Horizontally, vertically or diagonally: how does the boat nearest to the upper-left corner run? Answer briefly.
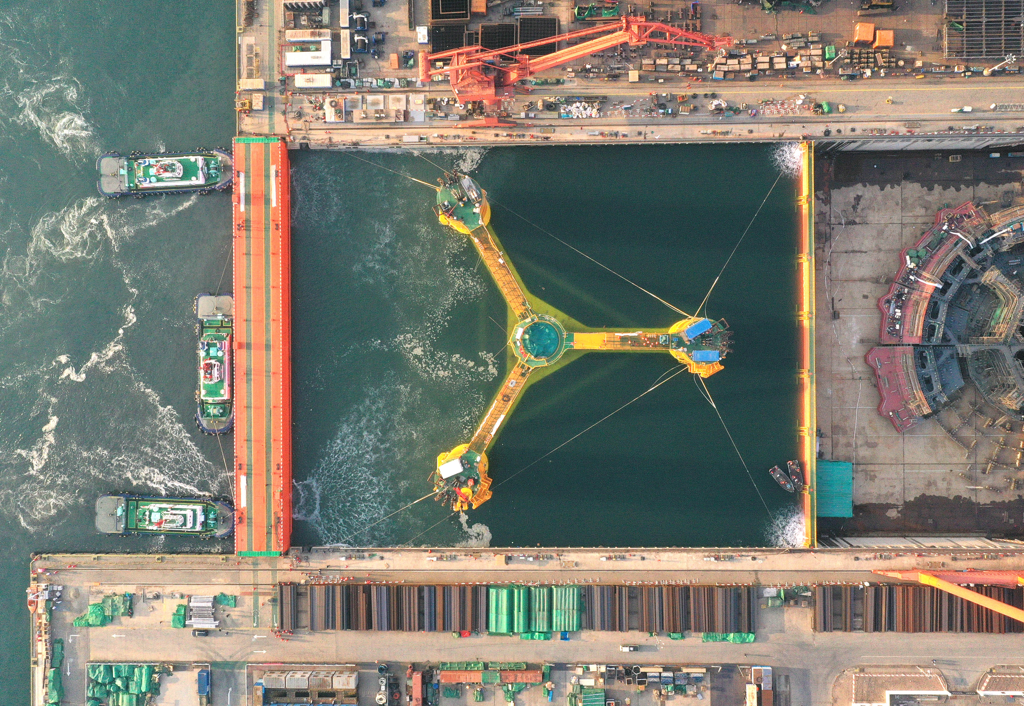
horizontally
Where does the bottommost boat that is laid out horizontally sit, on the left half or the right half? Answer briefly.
left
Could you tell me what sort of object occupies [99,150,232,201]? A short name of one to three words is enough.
boat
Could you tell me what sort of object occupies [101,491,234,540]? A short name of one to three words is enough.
boat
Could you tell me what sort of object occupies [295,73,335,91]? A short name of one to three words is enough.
building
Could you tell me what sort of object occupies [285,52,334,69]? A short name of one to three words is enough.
building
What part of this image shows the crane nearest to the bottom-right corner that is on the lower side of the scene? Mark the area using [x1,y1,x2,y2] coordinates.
[872,567,1024,624]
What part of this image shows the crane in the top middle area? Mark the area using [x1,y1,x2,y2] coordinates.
[419,14,735,129]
